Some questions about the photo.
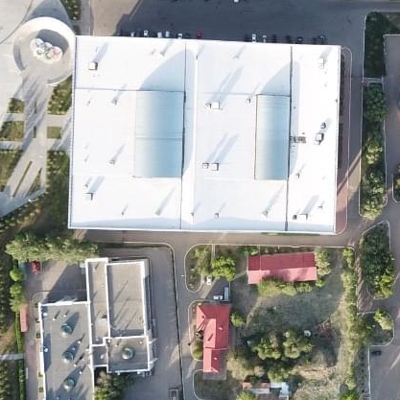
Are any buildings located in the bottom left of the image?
Yes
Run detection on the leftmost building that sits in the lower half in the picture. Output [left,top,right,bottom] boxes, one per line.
[38,255,158,400]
